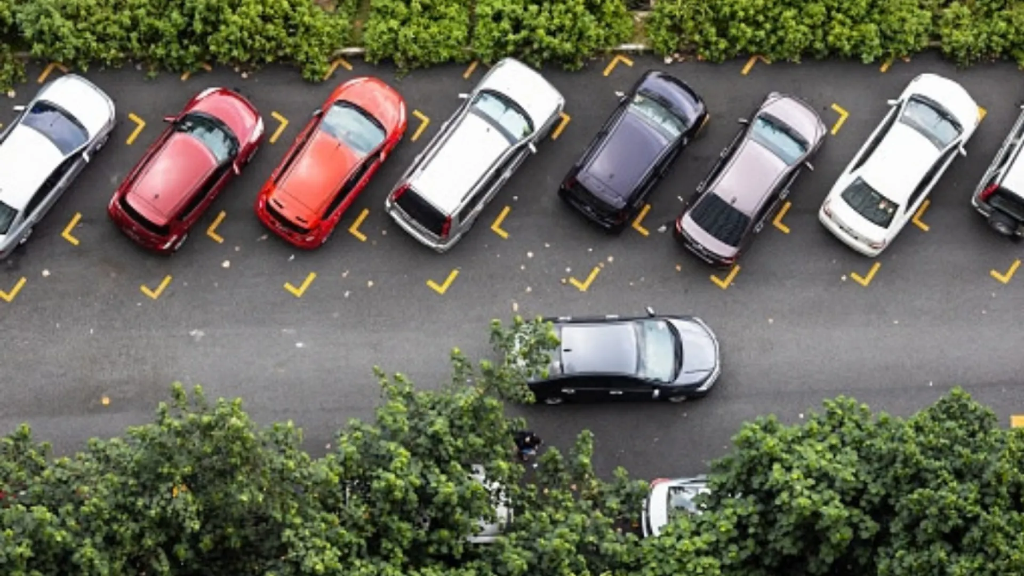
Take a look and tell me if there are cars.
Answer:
Yes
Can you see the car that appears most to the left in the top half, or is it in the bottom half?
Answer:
top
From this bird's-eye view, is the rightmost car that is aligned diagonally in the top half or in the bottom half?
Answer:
top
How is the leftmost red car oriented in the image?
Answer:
on a diagonal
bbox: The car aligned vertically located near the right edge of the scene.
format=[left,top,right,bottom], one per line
[971,114,1024,238]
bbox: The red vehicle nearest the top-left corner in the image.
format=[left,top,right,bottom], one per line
[111,84,262,258]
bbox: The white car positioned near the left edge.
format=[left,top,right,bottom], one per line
[0,71,117,268]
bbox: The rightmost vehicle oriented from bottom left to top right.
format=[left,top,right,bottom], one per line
[819,68,978,261]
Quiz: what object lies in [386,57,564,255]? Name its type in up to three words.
car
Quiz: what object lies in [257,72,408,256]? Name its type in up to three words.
car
